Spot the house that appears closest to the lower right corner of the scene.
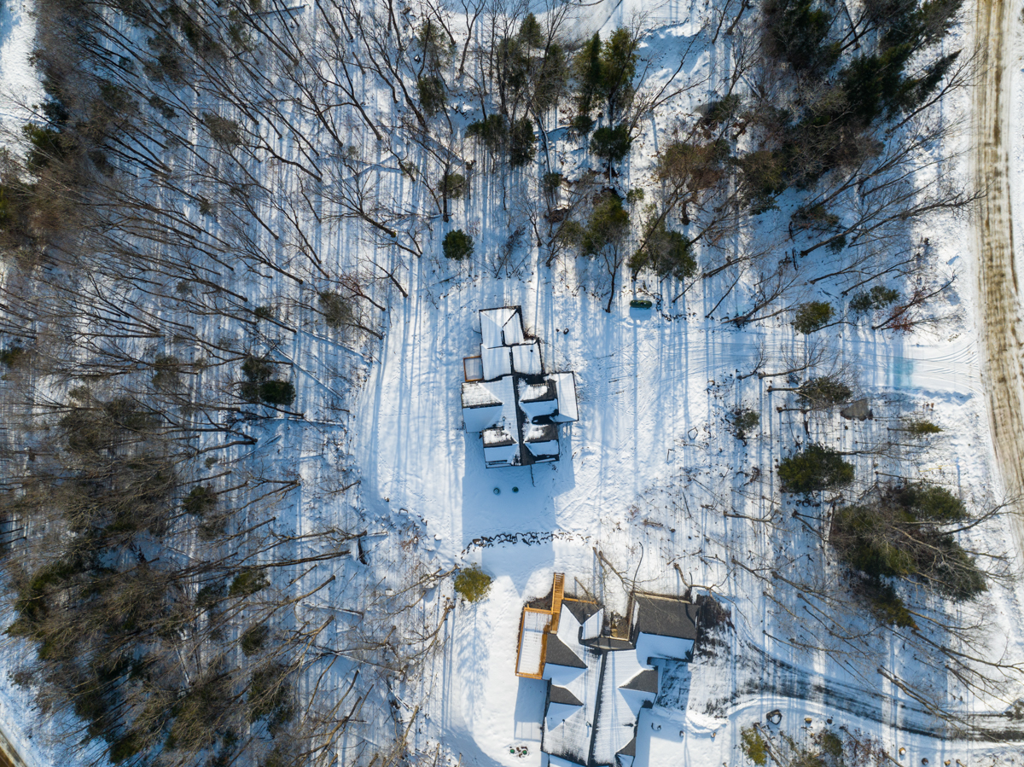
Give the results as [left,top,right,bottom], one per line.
[514,573,702,767]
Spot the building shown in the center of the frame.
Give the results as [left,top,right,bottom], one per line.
[462,306,578,469]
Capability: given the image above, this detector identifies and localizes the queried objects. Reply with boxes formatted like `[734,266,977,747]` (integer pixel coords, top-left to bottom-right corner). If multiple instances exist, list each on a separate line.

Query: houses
[462,306,578,469]
[514,573,702,767]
